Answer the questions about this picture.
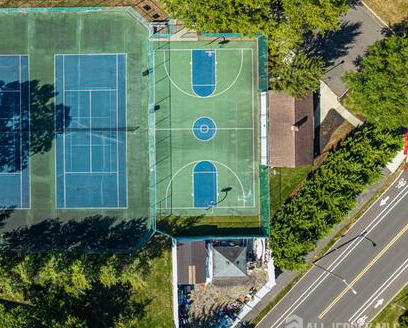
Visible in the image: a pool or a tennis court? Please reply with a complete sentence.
Visible in the photo is a tennis court.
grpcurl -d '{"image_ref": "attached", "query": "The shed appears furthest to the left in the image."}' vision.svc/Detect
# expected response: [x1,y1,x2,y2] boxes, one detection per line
[174,239,207,284]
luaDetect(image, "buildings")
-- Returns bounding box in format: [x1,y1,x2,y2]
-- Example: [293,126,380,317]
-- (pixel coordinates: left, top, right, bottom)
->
[212,245,247,284]
[263,89,314,167]
[174,239,207,284]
